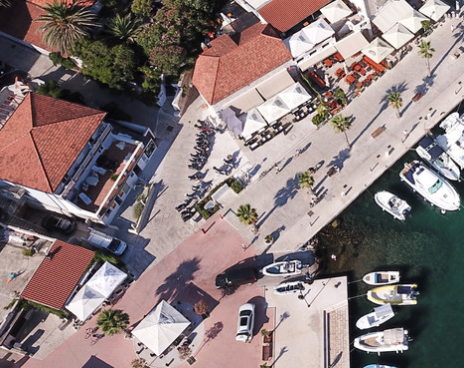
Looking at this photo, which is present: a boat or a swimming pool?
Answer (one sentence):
Looking from above, you can make out a boat.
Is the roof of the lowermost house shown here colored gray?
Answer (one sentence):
No, from above the roof of the lowermost house looks red.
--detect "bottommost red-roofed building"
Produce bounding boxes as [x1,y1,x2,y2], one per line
[20,239,104,318]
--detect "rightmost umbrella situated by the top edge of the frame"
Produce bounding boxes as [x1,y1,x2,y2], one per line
[419,0,451,23]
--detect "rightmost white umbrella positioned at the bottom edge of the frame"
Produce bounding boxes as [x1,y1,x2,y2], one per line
[132,300,191,356]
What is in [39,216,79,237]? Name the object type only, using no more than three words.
car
